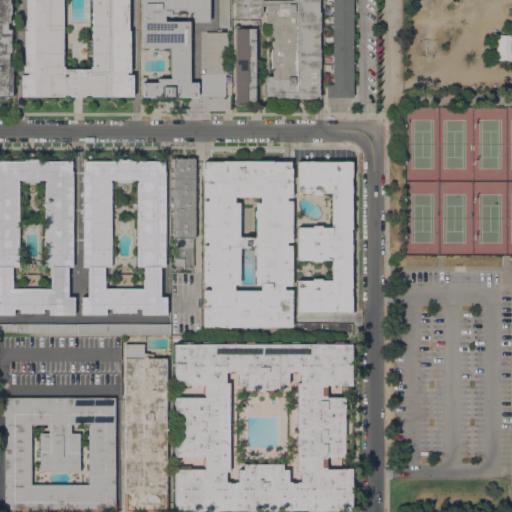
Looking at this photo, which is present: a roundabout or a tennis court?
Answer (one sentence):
Visible in the photo is a tennis court.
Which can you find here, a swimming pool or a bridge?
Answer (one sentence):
Of the two, only a swimming pool appears.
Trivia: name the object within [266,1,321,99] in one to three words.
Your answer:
building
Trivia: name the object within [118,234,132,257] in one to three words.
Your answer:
swimming pool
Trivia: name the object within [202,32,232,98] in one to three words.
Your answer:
building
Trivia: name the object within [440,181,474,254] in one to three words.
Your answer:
tennis court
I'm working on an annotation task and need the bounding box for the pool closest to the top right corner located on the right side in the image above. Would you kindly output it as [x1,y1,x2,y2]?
[299,200,322,220]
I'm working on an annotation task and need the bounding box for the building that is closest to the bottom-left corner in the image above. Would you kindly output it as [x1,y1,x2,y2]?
[5,398,116,510]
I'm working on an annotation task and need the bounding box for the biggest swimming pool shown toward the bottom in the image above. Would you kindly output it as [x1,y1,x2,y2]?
[248,418,278,448]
